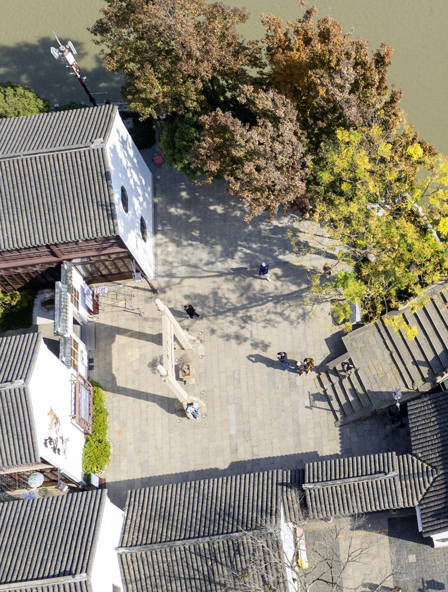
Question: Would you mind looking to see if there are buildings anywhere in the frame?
Yes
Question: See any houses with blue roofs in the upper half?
No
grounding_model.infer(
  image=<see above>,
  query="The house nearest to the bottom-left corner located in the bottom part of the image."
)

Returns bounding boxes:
[0,489,123,592]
